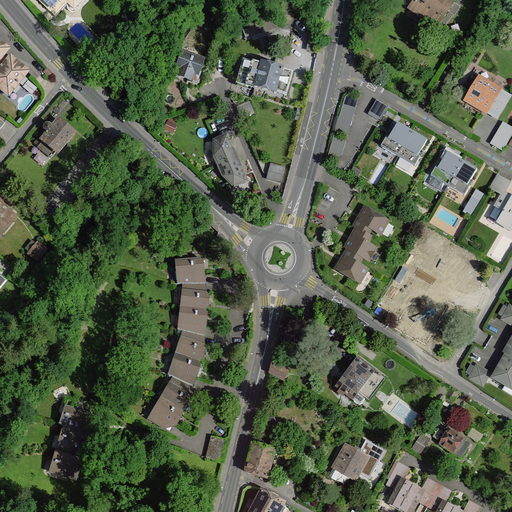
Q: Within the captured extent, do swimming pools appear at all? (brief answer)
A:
Yes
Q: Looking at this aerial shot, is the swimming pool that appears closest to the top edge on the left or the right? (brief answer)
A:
left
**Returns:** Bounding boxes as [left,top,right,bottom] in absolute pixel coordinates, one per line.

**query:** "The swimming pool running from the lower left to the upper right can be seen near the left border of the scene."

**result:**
[18,94,34,111]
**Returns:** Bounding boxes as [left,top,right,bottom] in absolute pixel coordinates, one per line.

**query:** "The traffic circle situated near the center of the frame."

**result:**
[248,226,310,290]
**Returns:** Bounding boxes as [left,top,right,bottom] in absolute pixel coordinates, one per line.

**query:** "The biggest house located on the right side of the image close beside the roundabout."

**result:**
[334,204,390,283]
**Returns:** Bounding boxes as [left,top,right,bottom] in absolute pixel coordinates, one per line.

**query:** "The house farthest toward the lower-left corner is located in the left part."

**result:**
[44,405,84,480]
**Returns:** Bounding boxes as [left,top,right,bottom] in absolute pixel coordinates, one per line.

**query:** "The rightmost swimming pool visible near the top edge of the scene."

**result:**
[69,22,92,42]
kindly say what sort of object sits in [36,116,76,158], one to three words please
house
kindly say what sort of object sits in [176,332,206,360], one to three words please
house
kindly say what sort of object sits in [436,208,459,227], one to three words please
swimming pool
